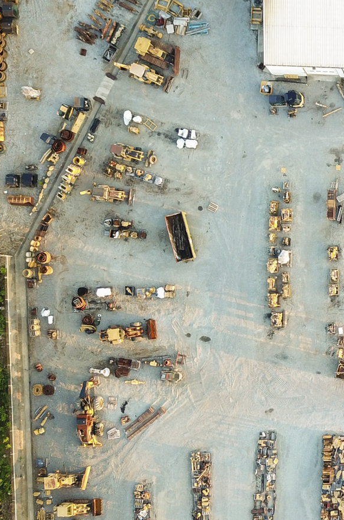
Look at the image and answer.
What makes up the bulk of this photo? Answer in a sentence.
What you mostly see from above here is paved ground.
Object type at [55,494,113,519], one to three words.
work vehicle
